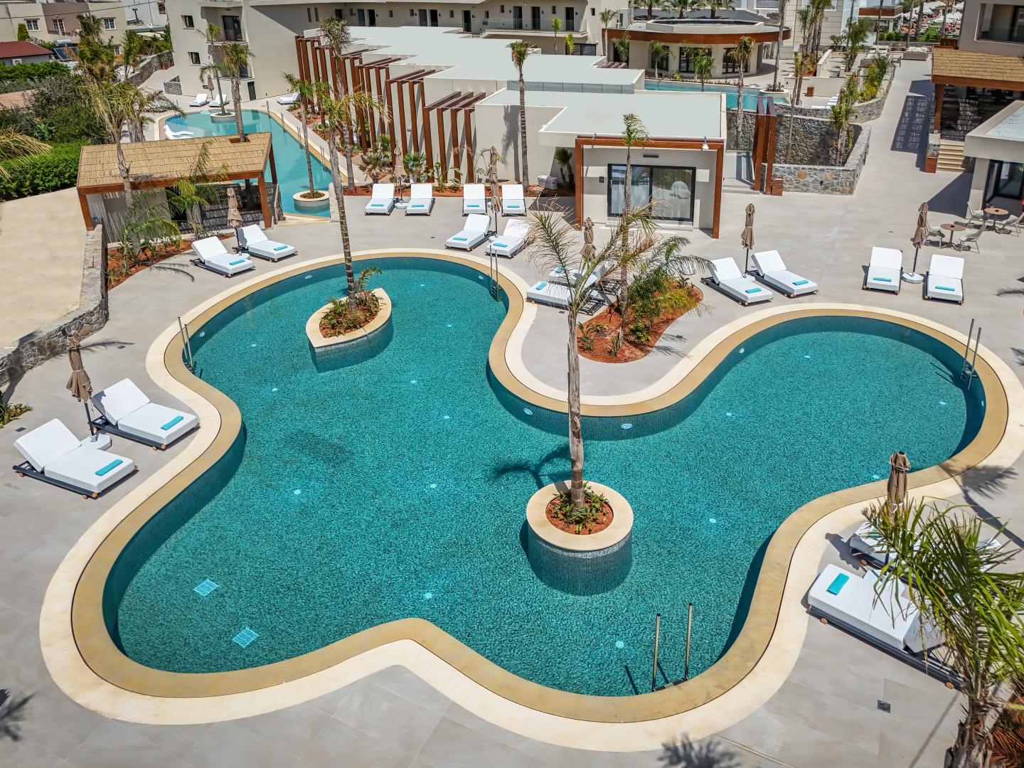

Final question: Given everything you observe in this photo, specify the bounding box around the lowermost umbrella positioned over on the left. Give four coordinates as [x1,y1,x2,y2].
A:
[52,339,110,445]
